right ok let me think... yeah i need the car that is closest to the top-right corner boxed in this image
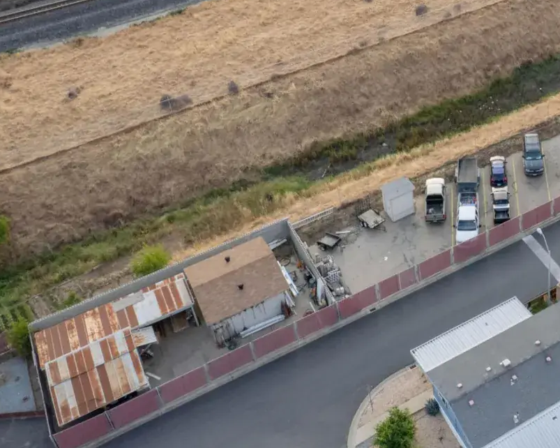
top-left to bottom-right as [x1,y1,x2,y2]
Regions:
[520,130,546,172]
